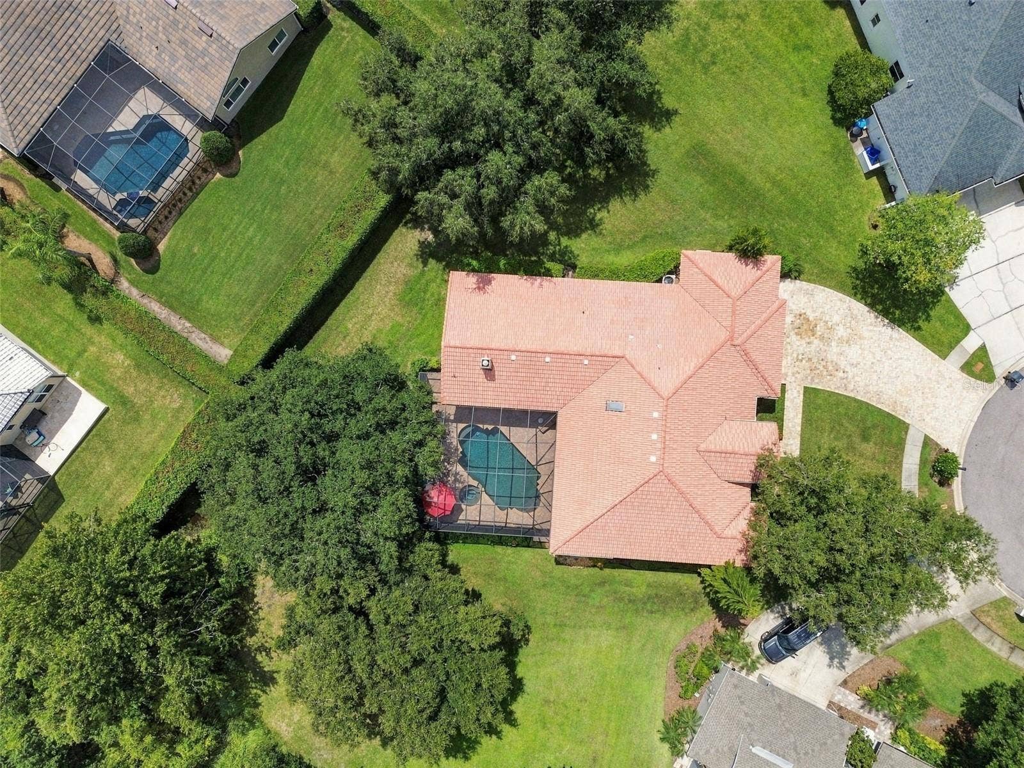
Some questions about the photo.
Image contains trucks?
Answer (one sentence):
No, I find no truck anywhere in the image.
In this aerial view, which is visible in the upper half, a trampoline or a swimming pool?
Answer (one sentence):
The one visible in the upper half is a swimming pool.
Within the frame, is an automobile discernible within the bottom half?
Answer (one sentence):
Yes, an automobile is visible within the bottom half.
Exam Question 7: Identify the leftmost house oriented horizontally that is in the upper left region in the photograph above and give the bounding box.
[0,0,304,155]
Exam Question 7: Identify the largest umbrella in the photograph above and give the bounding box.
[424,482,459,518]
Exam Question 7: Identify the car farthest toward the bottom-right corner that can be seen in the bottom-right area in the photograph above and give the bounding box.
[756,608,828,662]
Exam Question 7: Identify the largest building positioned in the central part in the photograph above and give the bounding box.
[439,249,788,566]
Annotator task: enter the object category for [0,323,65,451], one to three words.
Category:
house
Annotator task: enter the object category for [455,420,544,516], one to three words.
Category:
swimming pool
